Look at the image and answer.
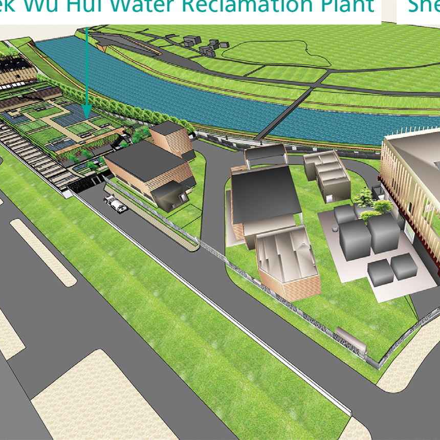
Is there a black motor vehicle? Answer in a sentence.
No, I can't see a single black motor vehicle in this photo.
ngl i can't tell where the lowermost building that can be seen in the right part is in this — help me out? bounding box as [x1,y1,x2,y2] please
[254,224,321,302]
